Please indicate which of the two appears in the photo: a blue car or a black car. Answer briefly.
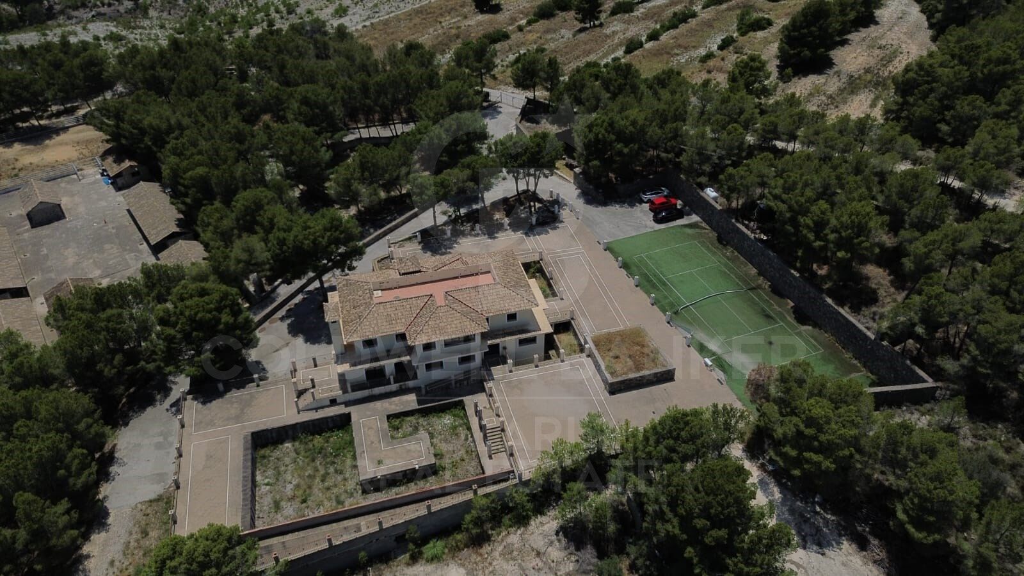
black car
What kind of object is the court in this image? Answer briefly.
tennis court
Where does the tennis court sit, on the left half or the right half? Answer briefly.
right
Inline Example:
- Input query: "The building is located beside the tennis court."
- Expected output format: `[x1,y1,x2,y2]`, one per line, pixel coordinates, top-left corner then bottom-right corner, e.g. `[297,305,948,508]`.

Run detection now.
[297,249,554,421]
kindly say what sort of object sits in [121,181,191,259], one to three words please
shed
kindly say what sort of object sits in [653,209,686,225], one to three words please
car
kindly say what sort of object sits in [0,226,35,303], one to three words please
shed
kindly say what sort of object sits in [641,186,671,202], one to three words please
car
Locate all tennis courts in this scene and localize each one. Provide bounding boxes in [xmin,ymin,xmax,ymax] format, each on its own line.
[607,215,868,417]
